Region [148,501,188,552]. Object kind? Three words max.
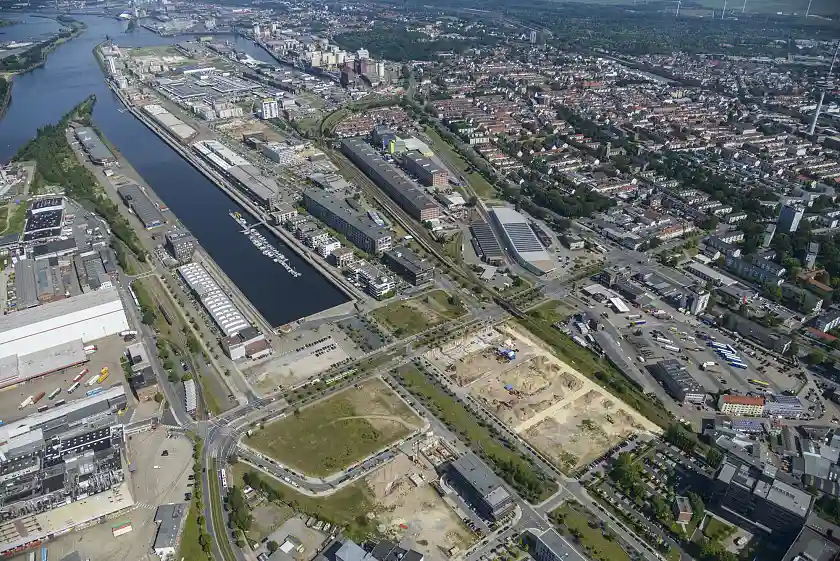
building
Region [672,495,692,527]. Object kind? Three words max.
house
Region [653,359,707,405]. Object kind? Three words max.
building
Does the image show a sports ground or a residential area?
residential area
